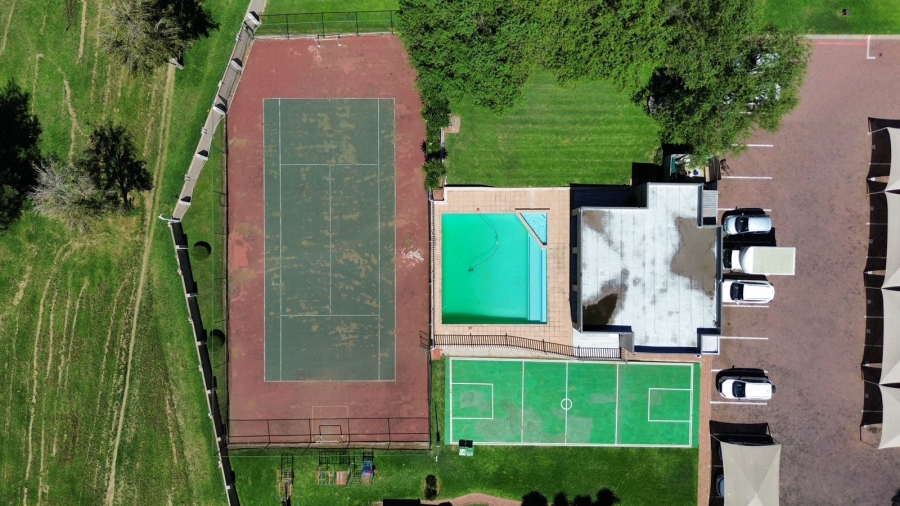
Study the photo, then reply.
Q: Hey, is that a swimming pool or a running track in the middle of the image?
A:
swimming pool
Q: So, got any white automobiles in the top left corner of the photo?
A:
No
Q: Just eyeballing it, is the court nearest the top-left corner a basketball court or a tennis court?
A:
tennis court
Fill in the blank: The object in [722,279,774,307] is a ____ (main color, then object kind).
white car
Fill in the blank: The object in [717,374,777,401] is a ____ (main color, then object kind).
white car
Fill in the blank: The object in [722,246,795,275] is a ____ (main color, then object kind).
white truck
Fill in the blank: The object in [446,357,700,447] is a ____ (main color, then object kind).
green sports court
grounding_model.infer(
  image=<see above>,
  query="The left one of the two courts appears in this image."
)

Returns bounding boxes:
[226,35,433,449]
